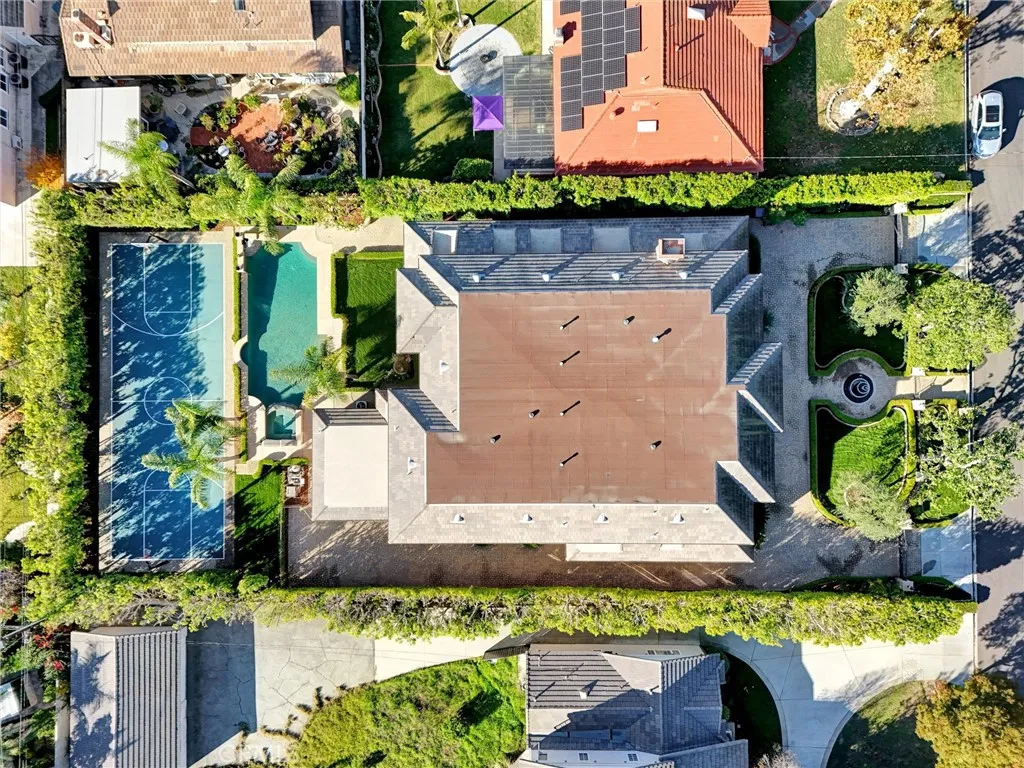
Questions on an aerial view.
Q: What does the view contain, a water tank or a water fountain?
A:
water fountain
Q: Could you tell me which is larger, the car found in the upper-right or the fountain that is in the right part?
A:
the car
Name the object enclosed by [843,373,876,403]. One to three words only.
fountain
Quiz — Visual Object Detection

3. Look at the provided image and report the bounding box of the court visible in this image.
[98,231,234,569]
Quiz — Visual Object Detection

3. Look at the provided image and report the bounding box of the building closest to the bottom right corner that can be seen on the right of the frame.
[512,643,749,768]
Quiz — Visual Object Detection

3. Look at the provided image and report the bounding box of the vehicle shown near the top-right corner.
[967,94,1005,159]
